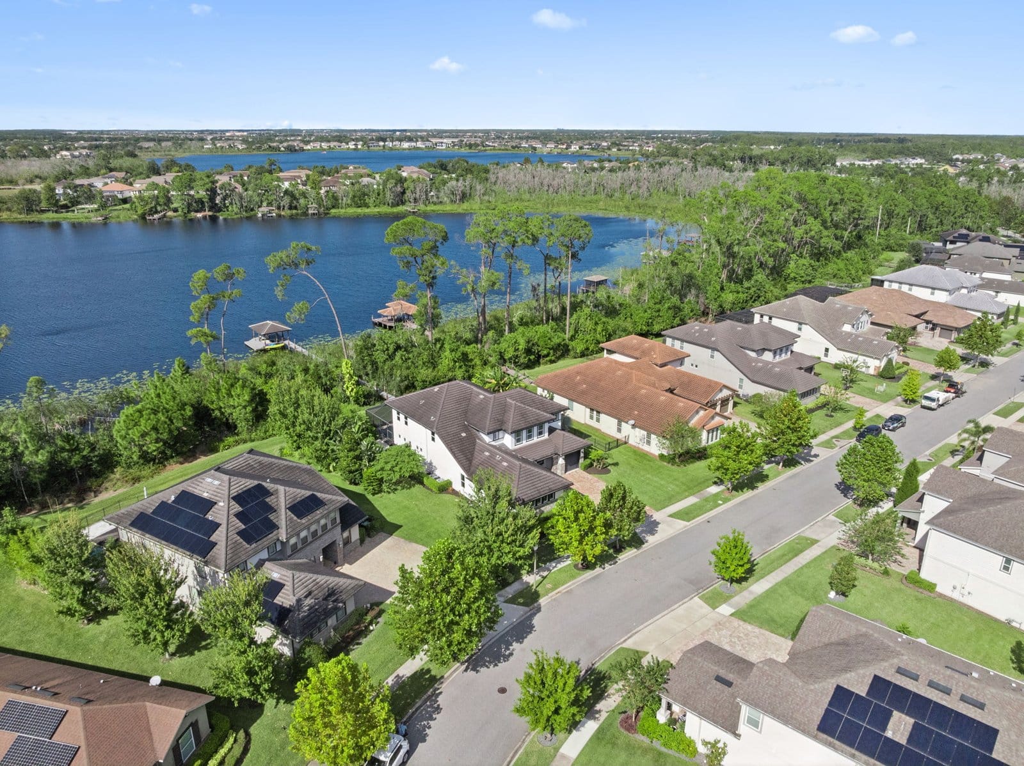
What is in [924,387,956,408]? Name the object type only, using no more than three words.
truck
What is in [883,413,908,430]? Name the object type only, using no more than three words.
car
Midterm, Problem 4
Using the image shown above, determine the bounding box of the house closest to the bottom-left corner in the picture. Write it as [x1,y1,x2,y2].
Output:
[0,652,215,766]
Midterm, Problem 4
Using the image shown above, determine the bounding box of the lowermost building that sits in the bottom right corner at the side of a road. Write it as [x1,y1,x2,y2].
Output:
[658,599,1024,766]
